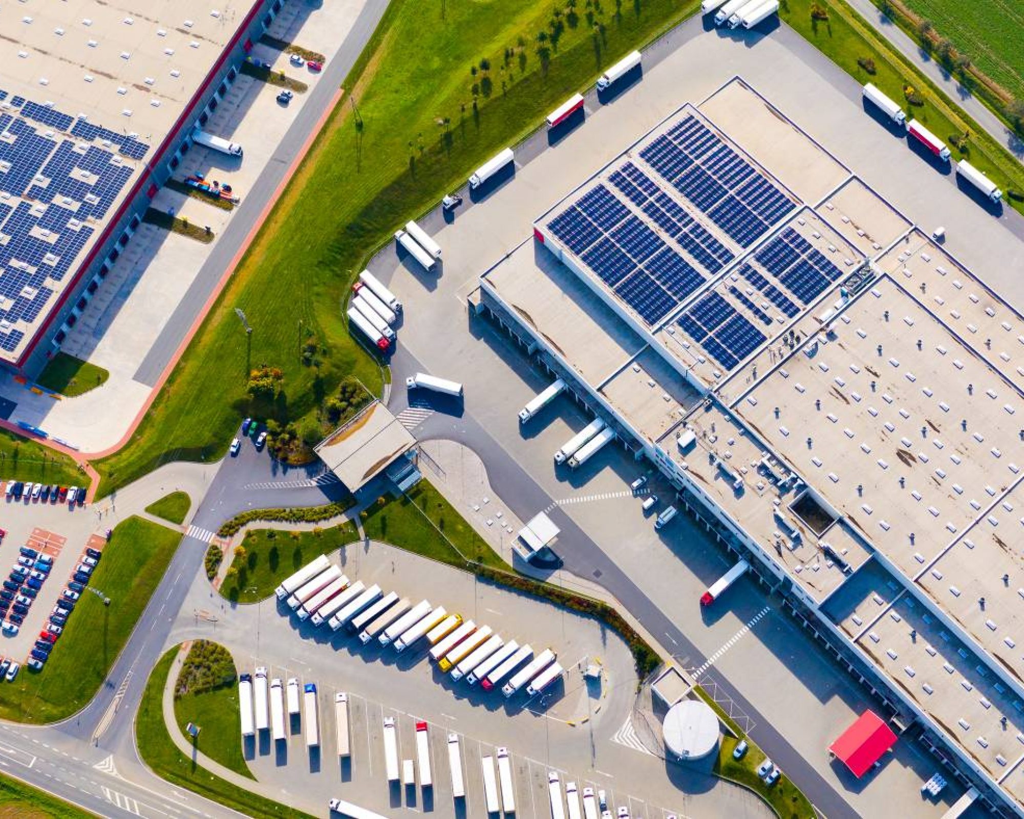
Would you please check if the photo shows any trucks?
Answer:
Yes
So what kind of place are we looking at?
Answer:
industrial area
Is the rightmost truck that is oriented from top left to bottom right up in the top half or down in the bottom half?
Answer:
top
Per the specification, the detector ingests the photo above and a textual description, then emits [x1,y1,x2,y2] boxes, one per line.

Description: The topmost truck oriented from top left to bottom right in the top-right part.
[861,83,906,128]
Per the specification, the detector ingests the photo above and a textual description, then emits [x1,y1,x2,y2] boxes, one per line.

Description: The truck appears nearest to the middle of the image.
[518,380,566,426]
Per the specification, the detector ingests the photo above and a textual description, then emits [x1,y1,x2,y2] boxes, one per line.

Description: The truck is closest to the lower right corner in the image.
[935,787,978,819]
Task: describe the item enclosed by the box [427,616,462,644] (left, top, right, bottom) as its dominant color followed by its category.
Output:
white truck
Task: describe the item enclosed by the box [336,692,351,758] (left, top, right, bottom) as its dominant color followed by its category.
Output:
white vehicle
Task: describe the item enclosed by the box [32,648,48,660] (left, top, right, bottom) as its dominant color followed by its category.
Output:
blue vehicle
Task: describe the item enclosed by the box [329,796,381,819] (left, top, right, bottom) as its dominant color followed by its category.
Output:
white truck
